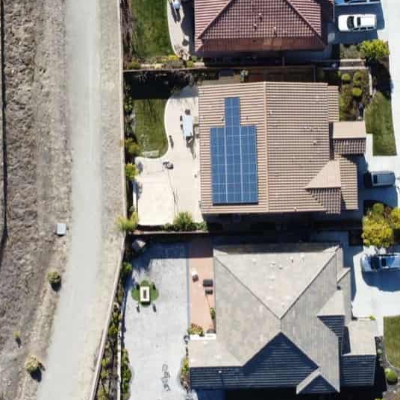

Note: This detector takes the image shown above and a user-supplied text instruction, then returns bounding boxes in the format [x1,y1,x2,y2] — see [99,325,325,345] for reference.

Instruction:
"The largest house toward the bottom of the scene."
[189,243,377,394]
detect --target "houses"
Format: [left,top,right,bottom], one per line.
[194,0,335,52]
[198,82,366,213]
[189,243,377,394]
